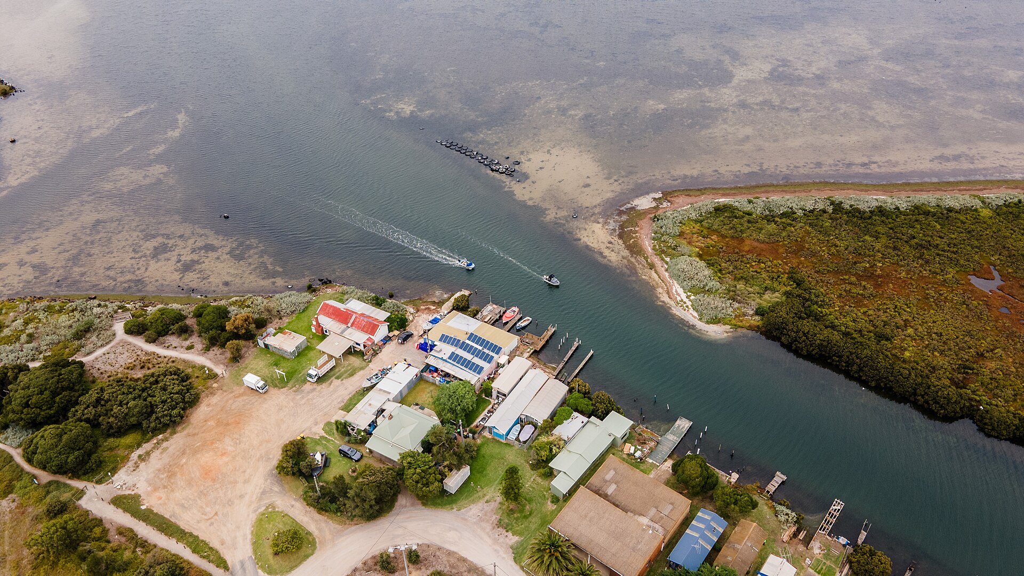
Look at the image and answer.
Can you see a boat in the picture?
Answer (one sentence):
Yes, I can see a boat in this picture.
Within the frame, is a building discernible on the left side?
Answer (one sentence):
Yes, a building shows up on the left side.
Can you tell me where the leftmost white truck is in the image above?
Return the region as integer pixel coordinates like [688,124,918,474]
[239,370,268,394]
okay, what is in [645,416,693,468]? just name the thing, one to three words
pier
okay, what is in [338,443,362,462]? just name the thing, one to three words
car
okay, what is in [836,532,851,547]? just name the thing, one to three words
boat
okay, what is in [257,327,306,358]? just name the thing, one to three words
shed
